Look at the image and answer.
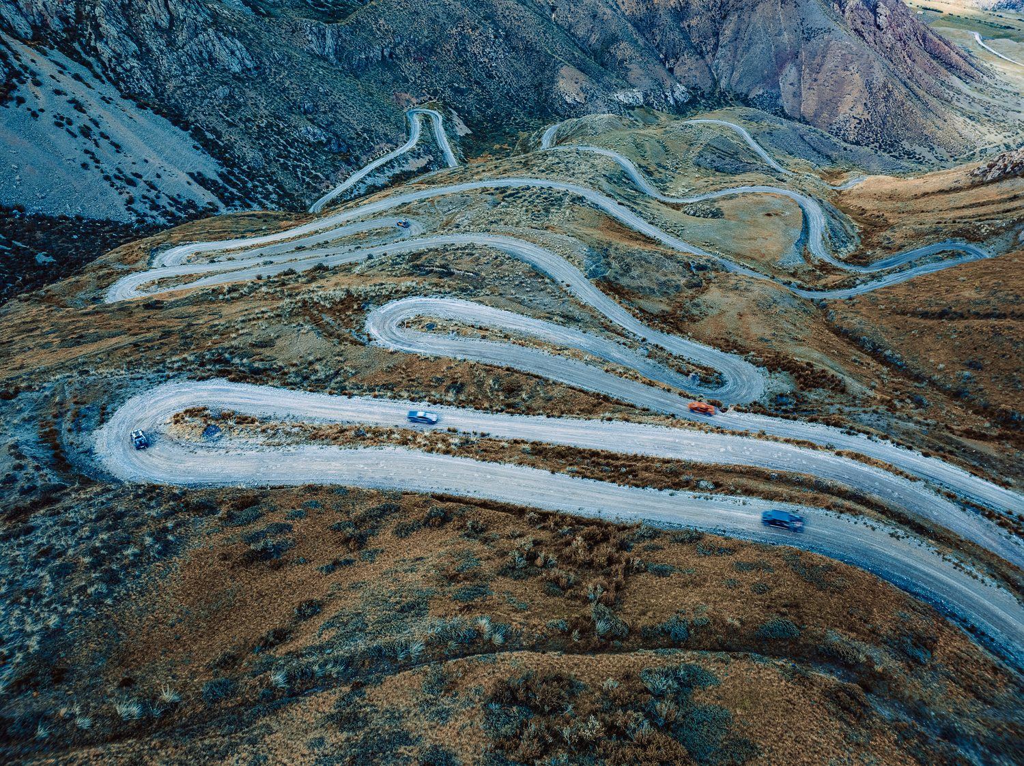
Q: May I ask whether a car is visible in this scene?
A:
Yes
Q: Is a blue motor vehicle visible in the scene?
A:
Yes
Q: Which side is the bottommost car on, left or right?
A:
right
